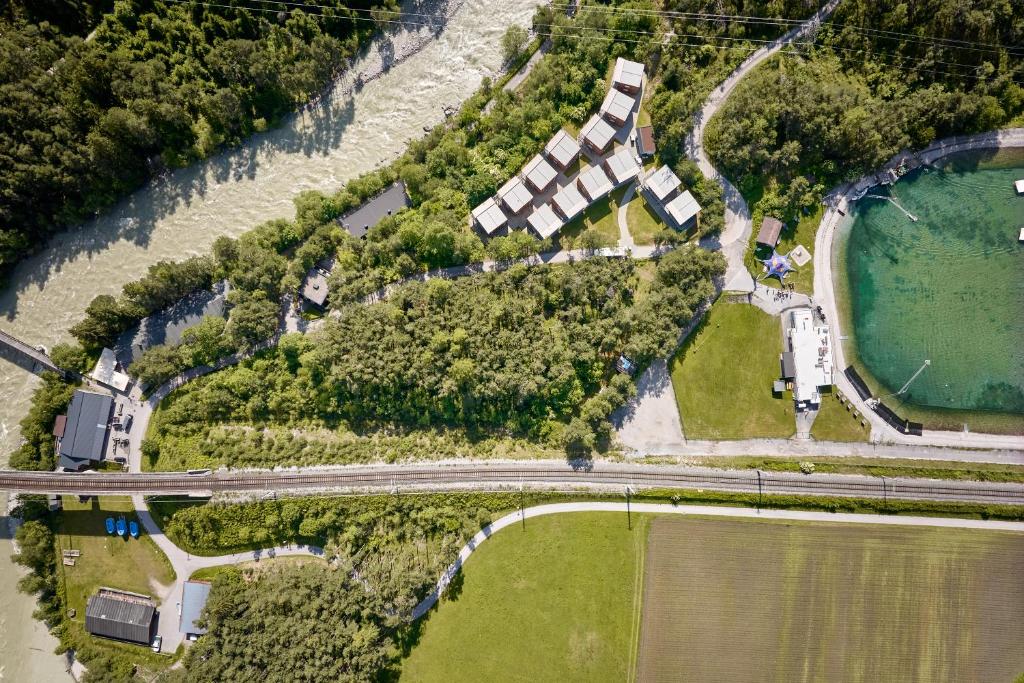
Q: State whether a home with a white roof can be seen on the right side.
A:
Yes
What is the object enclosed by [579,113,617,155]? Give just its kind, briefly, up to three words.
house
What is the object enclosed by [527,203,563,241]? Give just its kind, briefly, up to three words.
house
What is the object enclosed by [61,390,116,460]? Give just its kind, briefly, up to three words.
building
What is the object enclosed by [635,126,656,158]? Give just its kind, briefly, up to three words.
shed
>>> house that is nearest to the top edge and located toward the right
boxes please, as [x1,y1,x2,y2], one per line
[610,58,645,94]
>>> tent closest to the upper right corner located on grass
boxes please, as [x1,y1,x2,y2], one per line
[751,249,800,285]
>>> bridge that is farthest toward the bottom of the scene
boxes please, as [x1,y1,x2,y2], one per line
[0,461,213,504]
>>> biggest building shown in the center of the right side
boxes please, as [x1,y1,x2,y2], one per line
[783,311,832,403]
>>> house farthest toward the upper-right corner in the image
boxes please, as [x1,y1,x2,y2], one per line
[753,216,783,247]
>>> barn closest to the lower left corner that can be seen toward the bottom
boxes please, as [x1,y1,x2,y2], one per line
[87,586,161,643]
